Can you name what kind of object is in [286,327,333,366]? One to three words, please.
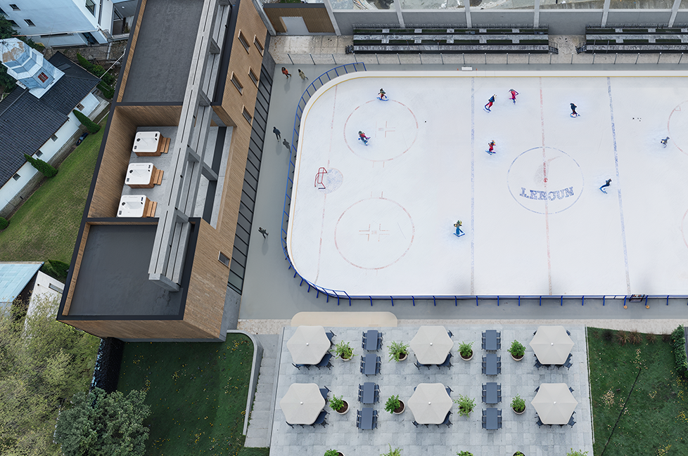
umbrella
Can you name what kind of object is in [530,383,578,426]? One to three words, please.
umbrella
